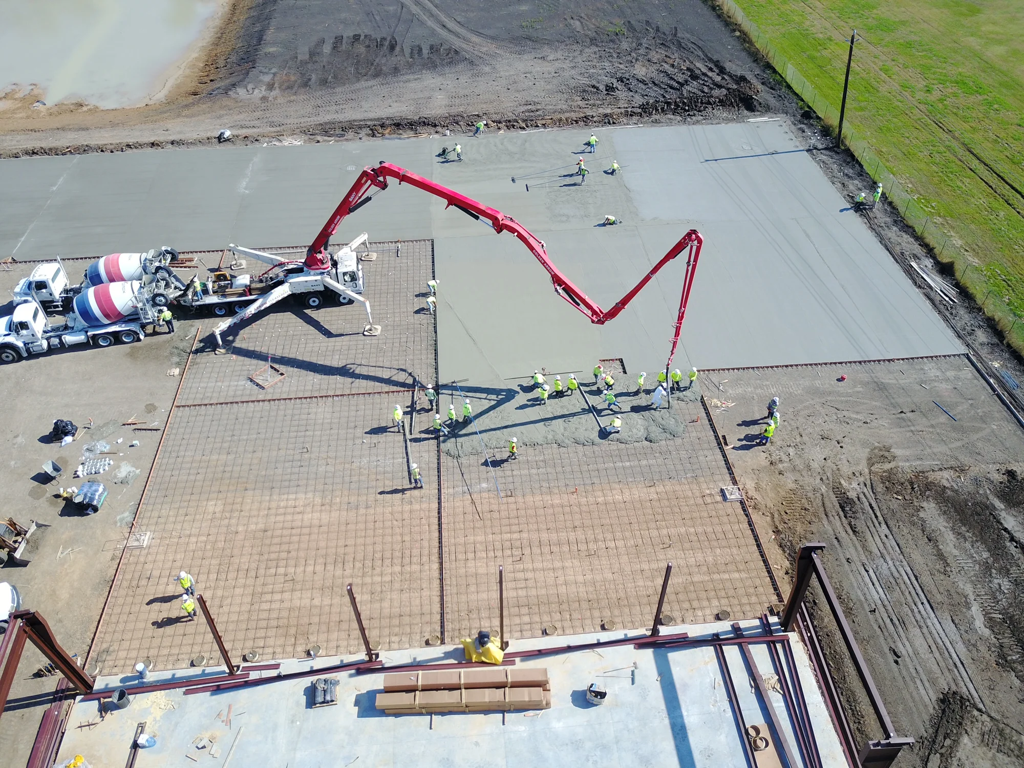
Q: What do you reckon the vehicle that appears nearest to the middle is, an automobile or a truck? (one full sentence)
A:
Looking closely, the vehicle that appears nearest to the middle is a truck.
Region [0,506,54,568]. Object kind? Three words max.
work vehicle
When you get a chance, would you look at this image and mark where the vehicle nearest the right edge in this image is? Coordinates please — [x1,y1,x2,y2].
[176,158,705,407]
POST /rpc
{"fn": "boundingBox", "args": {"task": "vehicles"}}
[0,506,54,568]
[0,268,194,362]
[0,243,199,318]
[176,158,705,407]
[0,579,29,624]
